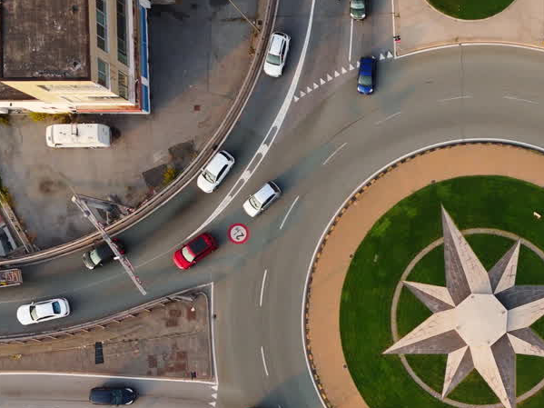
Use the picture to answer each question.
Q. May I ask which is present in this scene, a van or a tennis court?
van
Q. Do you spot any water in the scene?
No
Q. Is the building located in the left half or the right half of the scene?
left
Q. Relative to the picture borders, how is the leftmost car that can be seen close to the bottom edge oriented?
from side to side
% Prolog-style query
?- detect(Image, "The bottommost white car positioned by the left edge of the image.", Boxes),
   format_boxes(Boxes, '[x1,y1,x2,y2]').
[18,299,73,324]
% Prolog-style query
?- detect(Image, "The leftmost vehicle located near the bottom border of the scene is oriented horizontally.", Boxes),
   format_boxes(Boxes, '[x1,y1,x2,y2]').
[89,384,139,407]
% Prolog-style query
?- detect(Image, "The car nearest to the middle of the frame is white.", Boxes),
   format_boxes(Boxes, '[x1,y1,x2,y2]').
[245,181,283,217]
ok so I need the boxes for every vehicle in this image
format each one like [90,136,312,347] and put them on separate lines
[355,56,377,95]
[84,239,128,268]
[245,181,283,217]
[199,150,234,193]
[345,0,369,22]
[18,299,73,324]
[173,233,218,267]
[262,30,291,80]
[48,120,115,149]
[0,267,26,288]
[89,384,139,407]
